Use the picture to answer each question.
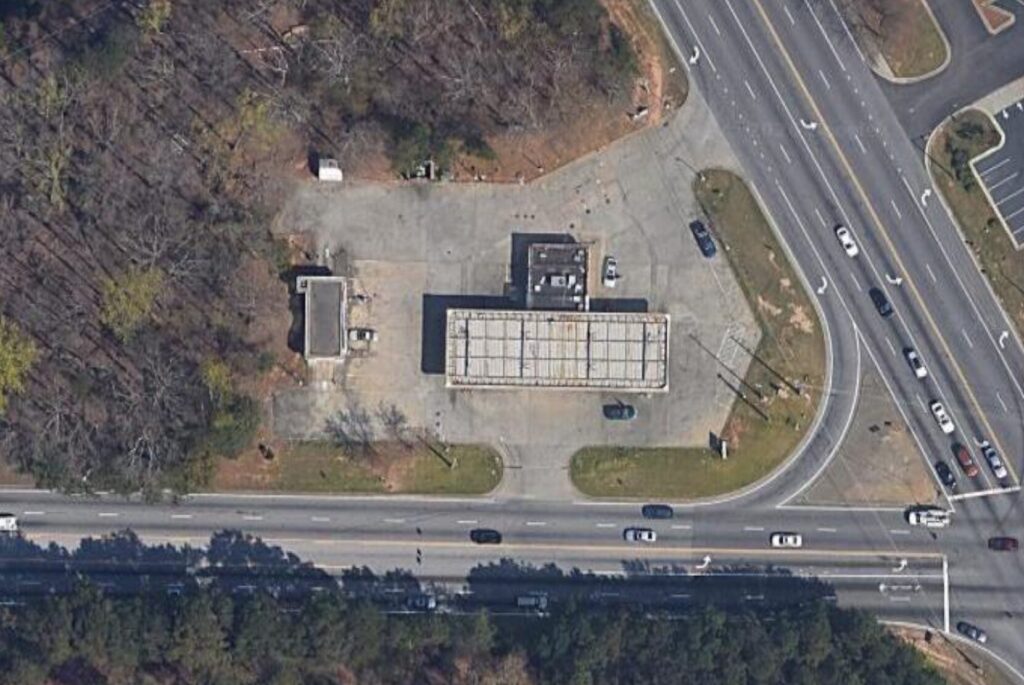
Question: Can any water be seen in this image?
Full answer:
No, the scene doesn't show any water.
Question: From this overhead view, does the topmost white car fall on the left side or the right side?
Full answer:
The topmost white car sits on the right side.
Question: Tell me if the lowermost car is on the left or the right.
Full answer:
You can find the lowermost car on the right side of the picture.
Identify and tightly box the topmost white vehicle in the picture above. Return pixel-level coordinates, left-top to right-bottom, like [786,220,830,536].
[835,227,858,256]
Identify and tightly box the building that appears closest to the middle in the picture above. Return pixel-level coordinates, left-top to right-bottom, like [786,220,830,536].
[527,245,594,312]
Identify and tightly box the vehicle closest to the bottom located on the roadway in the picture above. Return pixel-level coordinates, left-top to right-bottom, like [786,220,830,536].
[956,621,986,643]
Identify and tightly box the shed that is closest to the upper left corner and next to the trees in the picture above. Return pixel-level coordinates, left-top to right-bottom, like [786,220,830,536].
[317,156,342,182]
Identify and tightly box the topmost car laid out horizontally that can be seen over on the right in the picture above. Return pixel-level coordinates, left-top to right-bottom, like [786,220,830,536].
[604,405,635,419]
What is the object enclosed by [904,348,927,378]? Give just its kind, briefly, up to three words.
car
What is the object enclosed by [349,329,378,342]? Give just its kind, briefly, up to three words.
vehicle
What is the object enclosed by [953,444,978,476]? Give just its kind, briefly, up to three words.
car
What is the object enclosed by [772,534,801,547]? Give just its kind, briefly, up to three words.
vehicle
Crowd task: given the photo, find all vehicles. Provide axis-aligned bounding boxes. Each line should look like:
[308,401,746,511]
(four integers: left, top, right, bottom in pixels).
[0,515,20,531]
[642,504,673,518]
[981,445,1006,478]
[349,329,378,342]
[907,510,949,526]
[690,221,715,257]
[835,227,858,256]
[956,621,986,643]
[772,534,801,547]
[934,459,957,489]
[988,537,1018,551]
[953,444,978,476]
[604,405,635,419]
[604,257,621,286]
[869,288,892,318]
[930,401,953,433]
[904,348,927,378]
[471,530,501,544]
[625,529,656,542]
